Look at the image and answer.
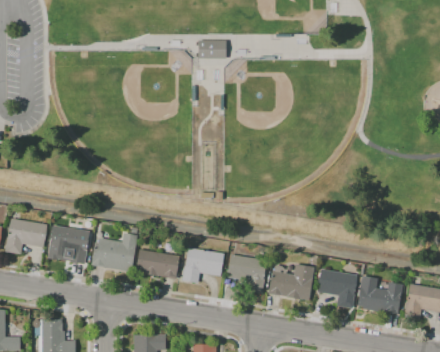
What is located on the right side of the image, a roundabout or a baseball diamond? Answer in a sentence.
The feature located on the right side of the image is a baseball diamond.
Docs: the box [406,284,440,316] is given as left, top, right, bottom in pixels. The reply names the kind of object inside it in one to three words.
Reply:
house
